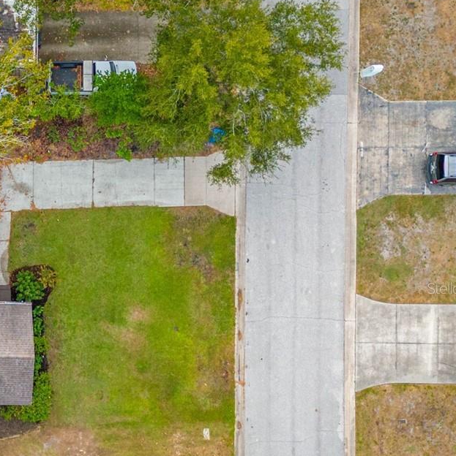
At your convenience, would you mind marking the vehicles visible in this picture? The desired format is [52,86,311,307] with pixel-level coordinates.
[45,55,139,97]
[426,152,456,186]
